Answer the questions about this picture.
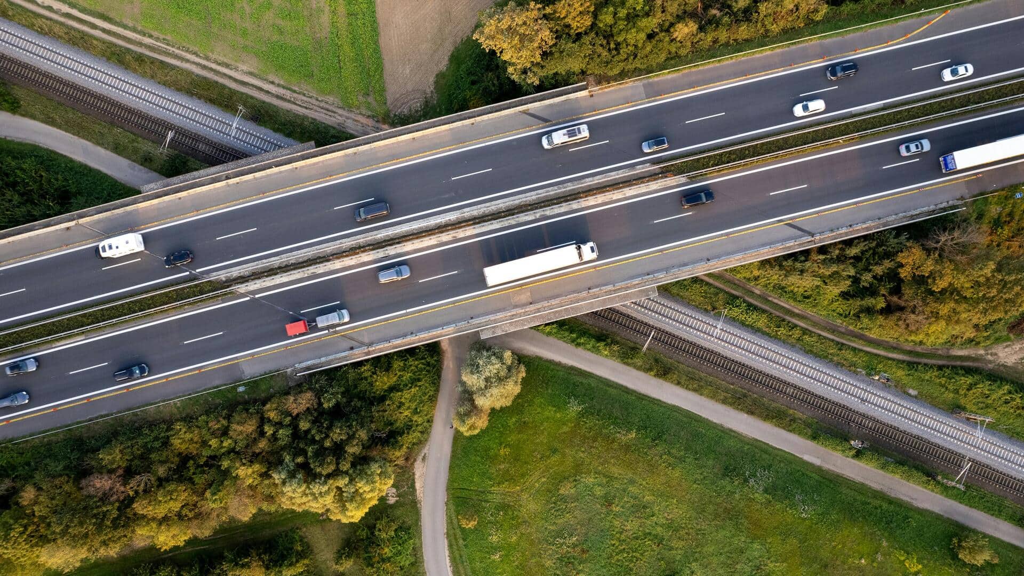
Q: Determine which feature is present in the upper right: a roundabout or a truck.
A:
truck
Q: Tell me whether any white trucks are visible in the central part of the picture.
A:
Yes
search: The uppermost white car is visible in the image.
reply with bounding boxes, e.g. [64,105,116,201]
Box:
[938,64,973,83]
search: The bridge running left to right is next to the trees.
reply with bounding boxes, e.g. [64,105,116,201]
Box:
[0,81,968,376]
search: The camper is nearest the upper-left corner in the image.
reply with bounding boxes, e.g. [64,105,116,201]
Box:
[96,232,149,260]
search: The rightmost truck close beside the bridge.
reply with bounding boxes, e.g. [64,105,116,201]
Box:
[940,136,1024,173]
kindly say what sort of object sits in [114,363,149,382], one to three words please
car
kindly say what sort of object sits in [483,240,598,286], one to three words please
truck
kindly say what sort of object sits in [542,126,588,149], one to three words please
vehicle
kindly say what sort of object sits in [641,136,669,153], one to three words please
car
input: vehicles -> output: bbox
[355,202,390,221]
[938,64,973,83]
[114,363,149,382]
[542,126,588,149]
[378,264,411,283]
[316,309,351,328]
[681,190,714,208]
[5,357,40,376]
[164,250,195,267]
[791,100,824,118]
[483,240,598,286]
[824,62,859,81]
[641,136,669,153]
[940,136,1024,173]
[897,138,929,156]
[0,390,31,409]
[96,232,149,260]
